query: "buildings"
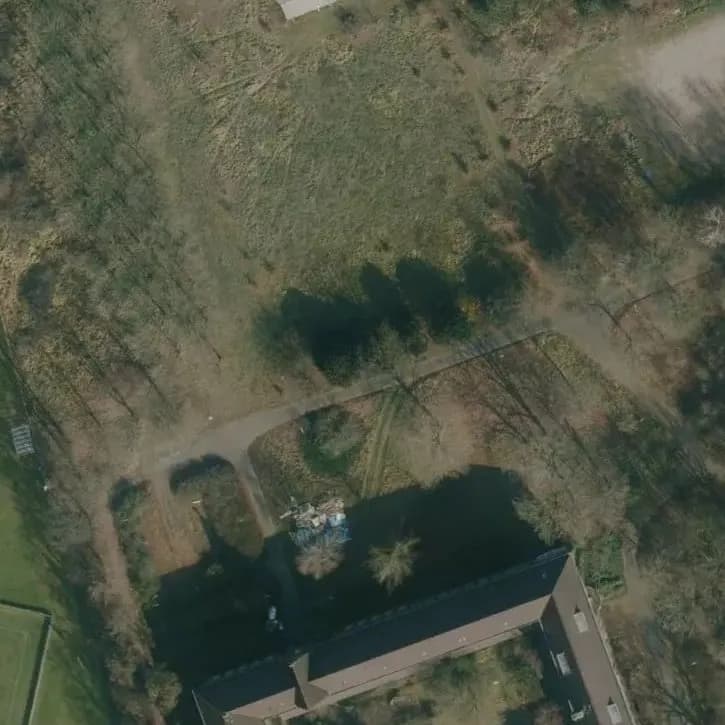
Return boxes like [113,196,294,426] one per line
[278,0,331,20]
[189,547,640,725]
